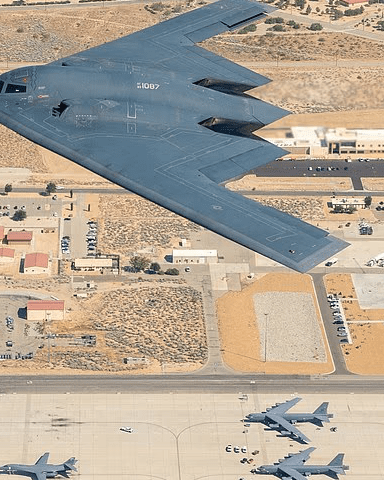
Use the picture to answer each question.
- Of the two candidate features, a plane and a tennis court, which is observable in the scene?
plane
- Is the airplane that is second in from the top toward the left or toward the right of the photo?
right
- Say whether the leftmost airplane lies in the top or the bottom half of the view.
bottom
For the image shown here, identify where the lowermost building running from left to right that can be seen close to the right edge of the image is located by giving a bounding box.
[328,194,367,209]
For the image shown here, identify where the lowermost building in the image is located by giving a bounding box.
[27,299,64,320]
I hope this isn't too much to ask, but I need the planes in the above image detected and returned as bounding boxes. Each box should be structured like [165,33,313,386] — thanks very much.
[253,445,347,480]
[0,450,79,480]
[0,0,349,271]
[246,395,336,443]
